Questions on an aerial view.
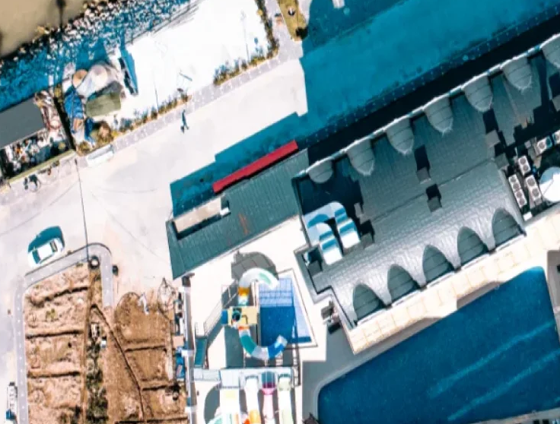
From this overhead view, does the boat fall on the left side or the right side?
left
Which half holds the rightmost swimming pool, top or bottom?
bottom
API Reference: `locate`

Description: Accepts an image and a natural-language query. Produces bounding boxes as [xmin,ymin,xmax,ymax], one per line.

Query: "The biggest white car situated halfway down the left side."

[23,235,65,265]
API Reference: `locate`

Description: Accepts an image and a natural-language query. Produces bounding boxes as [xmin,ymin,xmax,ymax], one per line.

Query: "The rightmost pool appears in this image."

[313,264,560,424]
